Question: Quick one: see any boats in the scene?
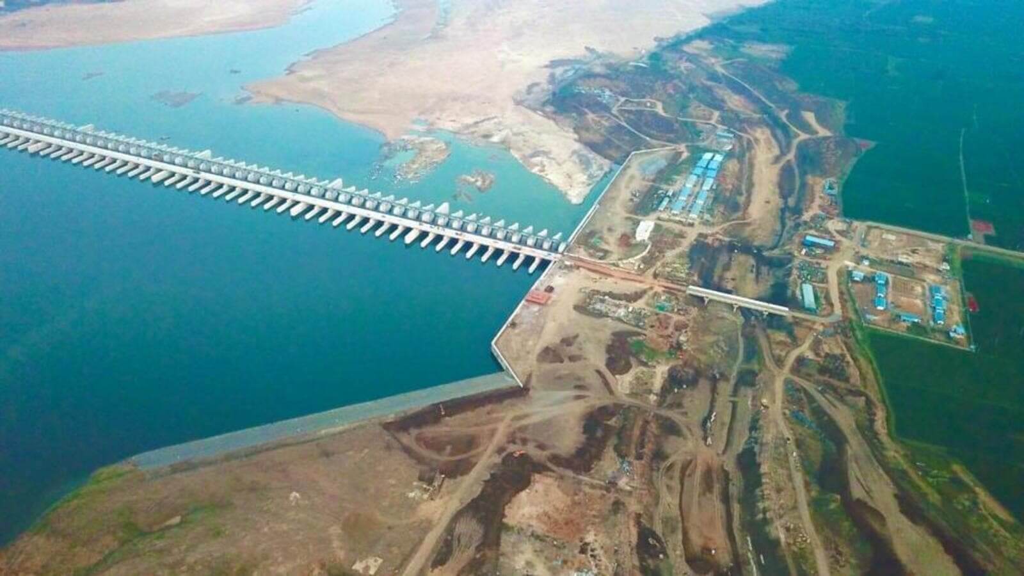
No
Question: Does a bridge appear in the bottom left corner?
No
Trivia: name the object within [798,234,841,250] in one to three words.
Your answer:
shed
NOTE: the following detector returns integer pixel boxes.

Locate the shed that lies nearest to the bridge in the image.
[798,284,820,313]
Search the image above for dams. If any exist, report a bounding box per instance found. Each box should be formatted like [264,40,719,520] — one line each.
[0,109,572,275]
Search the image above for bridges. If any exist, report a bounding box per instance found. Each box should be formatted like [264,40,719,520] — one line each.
[687,287,790,318]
